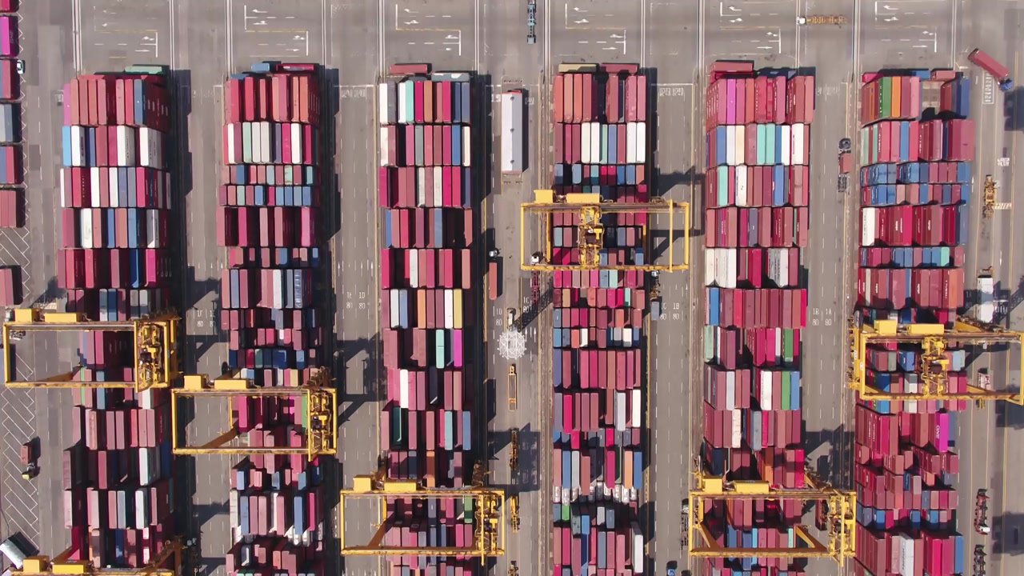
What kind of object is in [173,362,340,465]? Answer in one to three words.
container crane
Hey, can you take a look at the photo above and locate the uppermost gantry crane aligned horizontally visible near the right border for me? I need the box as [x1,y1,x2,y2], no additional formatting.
[848,310,1024,409]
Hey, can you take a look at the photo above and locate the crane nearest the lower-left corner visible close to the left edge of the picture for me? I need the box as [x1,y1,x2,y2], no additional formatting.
[12,534,193,576]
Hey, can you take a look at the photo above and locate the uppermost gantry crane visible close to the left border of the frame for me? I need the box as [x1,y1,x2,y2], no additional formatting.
[6,308,189,397]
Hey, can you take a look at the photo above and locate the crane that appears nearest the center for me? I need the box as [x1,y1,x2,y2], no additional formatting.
[520,188,687,274]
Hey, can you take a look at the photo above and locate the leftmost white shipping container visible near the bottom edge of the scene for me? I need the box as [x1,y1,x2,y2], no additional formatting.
[0,540,27,565]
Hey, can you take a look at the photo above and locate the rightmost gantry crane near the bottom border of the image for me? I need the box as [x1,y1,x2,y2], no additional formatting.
[685,454,853,572]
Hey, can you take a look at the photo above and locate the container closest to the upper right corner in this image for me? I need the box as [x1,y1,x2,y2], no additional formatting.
[967,49,1007,80]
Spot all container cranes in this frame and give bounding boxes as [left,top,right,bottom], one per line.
[520,188,687,274]
[685,454,853,572]
[848,310,1024,409]
[173,362,340,465]
[12,534,193,576]
[6,308,189,397]
[340,453,504,570]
